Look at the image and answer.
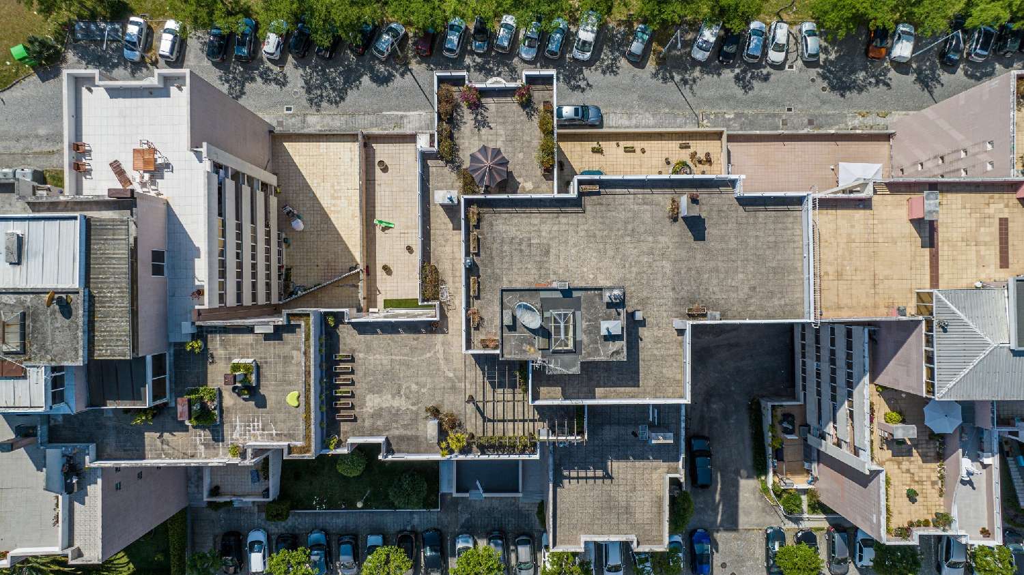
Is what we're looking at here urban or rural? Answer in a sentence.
The area is urban.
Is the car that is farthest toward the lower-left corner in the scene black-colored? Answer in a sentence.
Yes, the car that is farthest toward the lower-left corner is indeed black.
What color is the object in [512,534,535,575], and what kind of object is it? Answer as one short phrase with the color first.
gray car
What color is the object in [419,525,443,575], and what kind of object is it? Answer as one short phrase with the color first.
black car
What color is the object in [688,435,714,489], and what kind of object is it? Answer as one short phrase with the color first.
black car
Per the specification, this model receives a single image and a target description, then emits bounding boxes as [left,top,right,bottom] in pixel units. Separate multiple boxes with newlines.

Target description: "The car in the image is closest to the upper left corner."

[121,16,151,64]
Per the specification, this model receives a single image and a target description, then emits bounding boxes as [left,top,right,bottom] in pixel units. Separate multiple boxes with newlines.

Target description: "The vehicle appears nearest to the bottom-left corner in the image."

[219,528,244,575]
